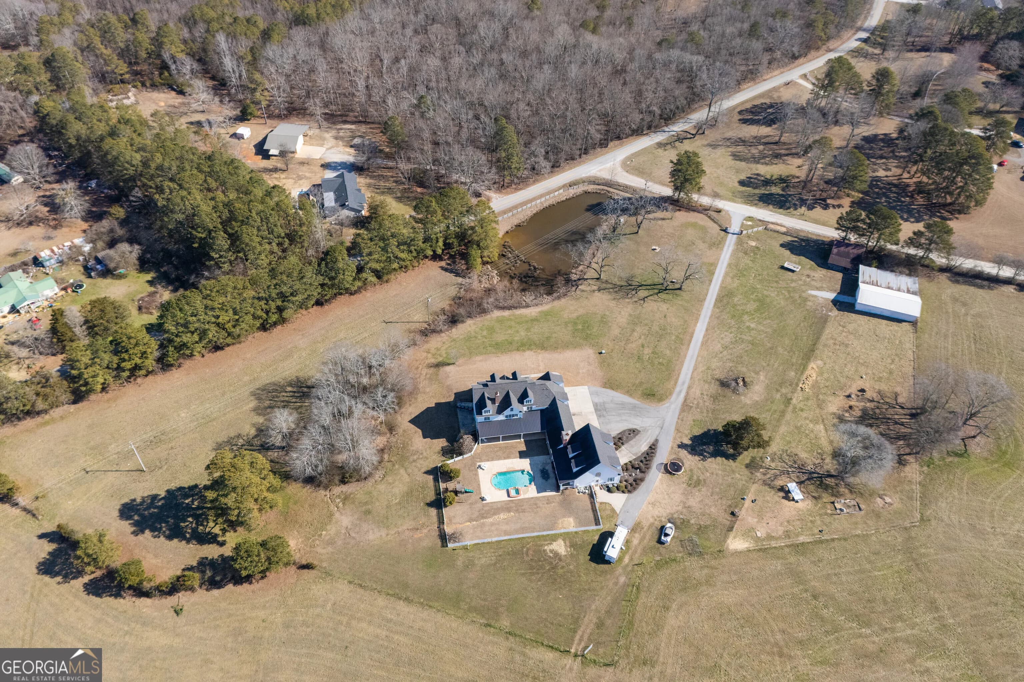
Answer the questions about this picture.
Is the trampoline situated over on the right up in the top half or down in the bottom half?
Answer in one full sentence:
It is in the bottom half that the trampoline situated over on the right appears.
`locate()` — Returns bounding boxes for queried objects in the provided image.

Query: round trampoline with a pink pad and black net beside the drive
[666,454,687,475]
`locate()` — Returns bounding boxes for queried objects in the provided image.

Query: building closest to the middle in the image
[471,371,623,492]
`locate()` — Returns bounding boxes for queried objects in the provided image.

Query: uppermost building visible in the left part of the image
[261,123,317,160]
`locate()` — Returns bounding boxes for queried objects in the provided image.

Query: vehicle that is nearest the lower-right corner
[661,522,674,543]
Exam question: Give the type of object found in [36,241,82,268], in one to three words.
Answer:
shed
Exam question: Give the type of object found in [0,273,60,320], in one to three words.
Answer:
building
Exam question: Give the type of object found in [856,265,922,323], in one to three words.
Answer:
barn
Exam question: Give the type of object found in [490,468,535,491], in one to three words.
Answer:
swimming pool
